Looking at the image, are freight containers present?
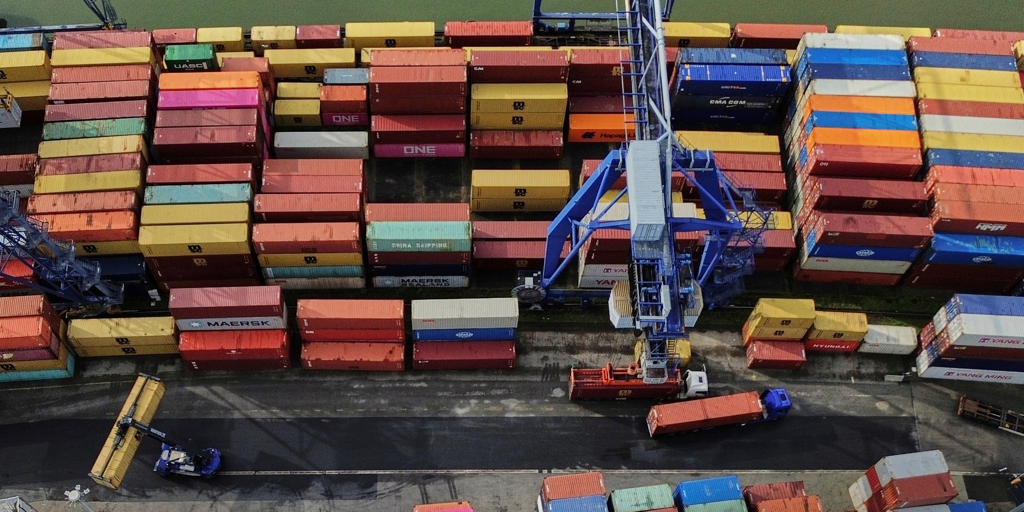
Yes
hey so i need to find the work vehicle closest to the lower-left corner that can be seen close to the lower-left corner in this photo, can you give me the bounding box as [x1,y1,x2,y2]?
[119,409,224,477]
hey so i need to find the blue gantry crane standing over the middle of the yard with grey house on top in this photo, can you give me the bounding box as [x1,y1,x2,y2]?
[508,0,785,398]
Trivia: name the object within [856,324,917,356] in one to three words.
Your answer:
shipping container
